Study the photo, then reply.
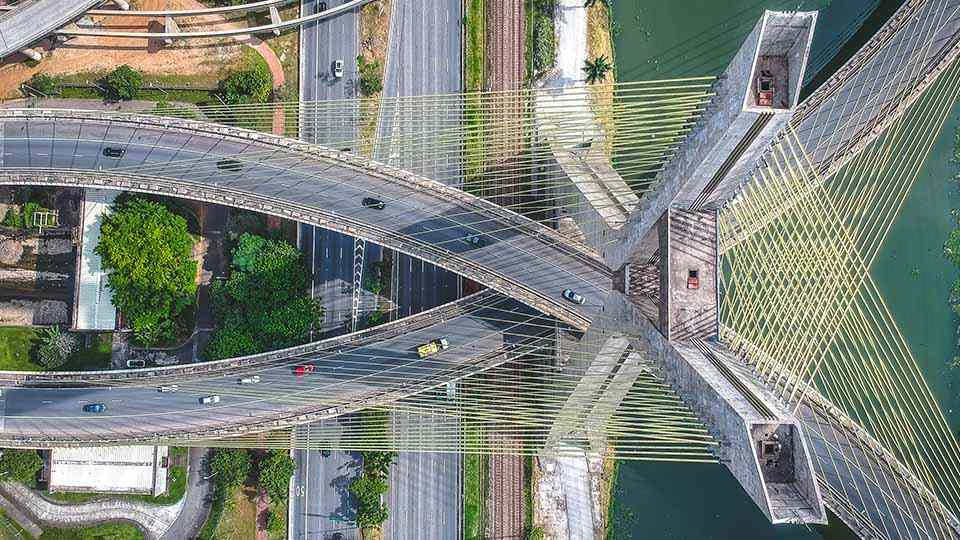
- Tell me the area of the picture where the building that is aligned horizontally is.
bottom left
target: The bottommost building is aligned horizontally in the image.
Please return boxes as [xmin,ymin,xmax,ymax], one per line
[47,445,166,497]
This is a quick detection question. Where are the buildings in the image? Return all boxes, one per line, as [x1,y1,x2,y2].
[47,445,166,497]
[71,188,128,330]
